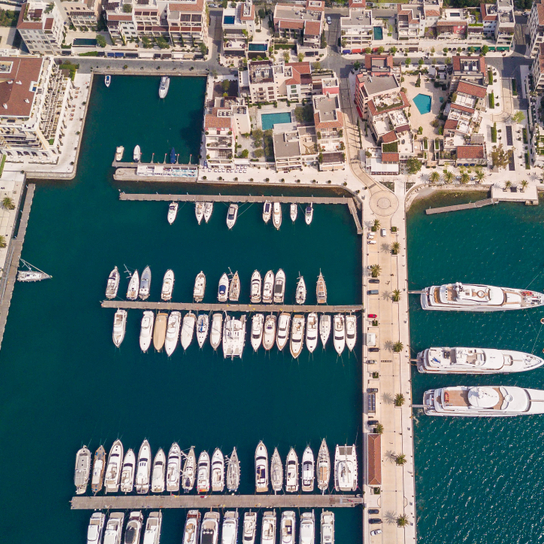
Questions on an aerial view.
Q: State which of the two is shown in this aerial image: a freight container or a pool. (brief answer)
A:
pool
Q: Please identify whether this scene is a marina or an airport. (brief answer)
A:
marina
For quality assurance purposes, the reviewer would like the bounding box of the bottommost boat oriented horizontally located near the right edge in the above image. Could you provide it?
[410,386,544,416]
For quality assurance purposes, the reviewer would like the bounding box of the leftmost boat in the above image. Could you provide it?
[19,260,53,282]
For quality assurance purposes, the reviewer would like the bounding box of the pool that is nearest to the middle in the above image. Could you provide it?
[261,109,293,131]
